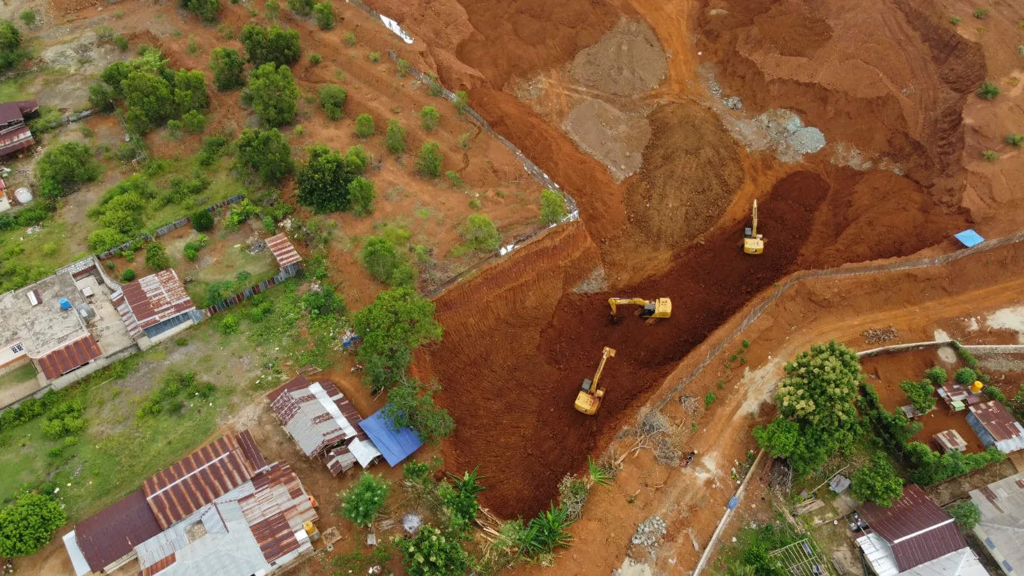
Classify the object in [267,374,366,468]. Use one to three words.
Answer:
shed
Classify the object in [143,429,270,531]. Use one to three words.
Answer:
house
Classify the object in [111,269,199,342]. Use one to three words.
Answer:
shed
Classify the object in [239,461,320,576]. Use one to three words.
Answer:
house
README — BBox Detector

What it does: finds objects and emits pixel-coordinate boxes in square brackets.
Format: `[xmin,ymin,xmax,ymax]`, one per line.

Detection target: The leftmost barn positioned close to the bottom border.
[62,488,163,576]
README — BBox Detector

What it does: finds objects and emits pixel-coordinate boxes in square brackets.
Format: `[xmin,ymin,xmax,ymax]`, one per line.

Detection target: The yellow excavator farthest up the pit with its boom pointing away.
[734,204,766,258]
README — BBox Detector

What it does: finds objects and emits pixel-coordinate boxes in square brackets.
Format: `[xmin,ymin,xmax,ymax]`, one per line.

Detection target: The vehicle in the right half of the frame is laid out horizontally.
[606,297,672,326]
